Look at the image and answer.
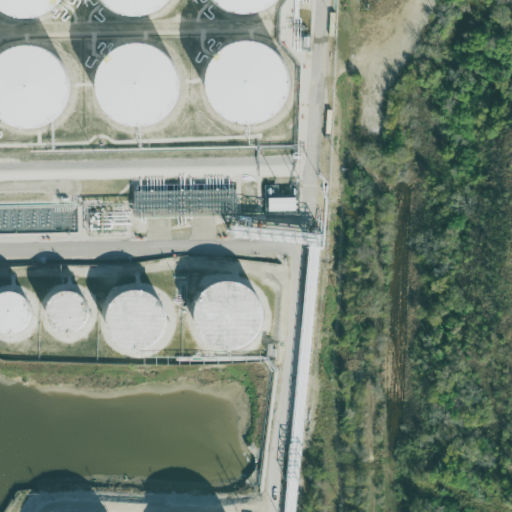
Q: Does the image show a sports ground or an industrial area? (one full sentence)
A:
The area seen from above is an industrial area.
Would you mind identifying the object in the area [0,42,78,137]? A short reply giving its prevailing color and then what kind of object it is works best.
white storage tank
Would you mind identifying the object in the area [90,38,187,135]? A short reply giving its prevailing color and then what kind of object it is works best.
white storage tank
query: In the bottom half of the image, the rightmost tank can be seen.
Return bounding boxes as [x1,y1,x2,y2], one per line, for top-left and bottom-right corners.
[188,276,272,358]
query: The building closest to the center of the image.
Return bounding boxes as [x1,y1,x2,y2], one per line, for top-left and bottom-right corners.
[268,198,298,212]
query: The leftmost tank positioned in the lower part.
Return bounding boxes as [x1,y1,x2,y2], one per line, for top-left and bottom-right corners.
[0,286,38,341]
